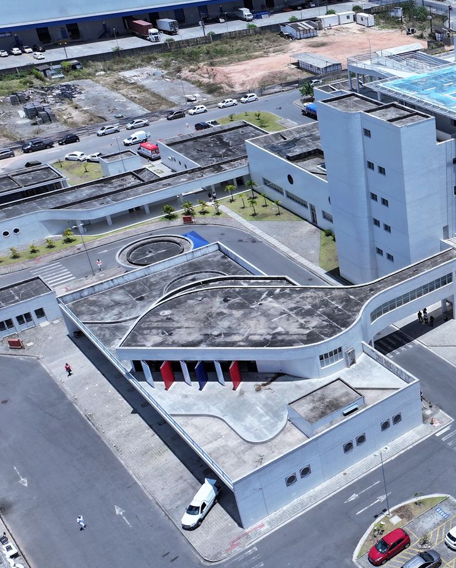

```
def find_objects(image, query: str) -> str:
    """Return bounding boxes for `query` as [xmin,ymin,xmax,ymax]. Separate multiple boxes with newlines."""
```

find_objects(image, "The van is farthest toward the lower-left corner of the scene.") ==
[178,472,229,526]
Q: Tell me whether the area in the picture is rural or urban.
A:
urban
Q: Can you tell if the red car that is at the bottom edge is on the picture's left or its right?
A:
right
